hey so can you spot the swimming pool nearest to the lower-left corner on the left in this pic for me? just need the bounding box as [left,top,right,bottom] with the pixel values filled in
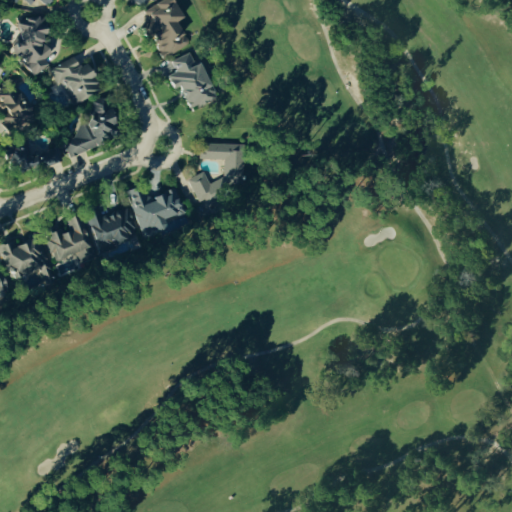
[58,260,79,272]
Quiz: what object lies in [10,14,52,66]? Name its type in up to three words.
house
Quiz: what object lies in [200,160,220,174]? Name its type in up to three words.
swimming pool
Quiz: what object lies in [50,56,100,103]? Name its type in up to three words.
house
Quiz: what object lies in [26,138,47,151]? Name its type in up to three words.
swimming pool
